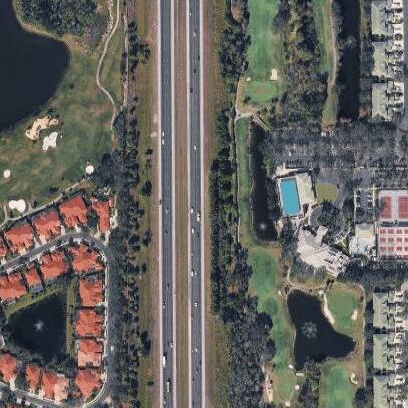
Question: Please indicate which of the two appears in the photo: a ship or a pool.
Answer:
pool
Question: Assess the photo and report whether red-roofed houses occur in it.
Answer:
Yes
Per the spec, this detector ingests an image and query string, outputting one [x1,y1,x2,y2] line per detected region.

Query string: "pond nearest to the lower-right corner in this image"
[288,289,354,370]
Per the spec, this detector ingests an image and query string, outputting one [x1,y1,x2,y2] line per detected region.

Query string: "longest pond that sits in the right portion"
[250,119,281,242]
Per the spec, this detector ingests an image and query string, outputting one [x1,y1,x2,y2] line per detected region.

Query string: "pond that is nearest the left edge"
[6,292,65,362]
